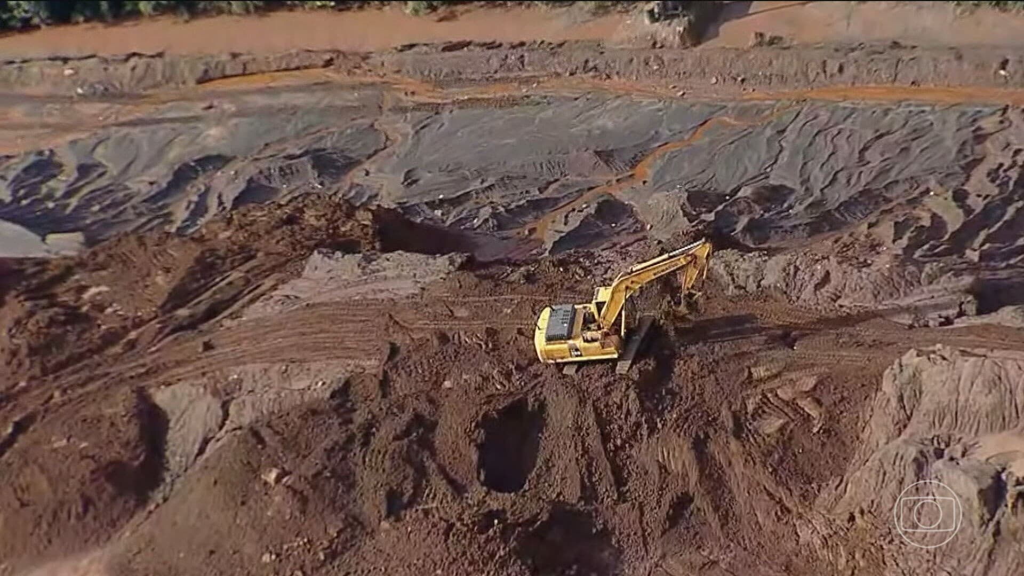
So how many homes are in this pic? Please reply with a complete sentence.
I count no homes.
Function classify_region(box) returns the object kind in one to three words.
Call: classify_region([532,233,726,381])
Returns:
work vehicle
